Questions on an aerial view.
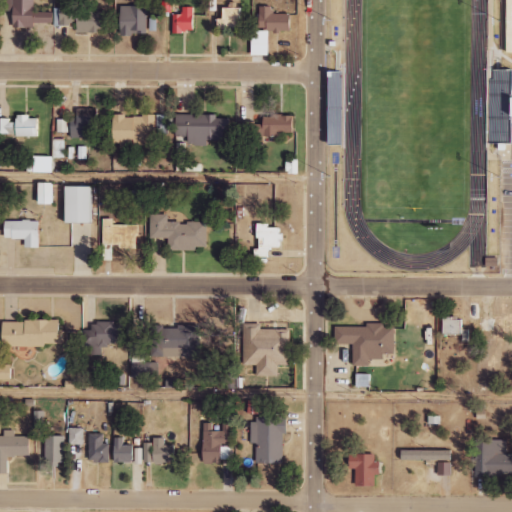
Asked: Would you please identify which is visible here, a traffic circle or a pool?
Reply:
pool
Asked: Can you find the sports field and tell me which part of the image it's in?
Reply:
top right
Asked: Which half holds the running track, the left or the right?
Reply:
right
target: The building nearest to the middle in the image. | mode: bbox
[254,224,282,262]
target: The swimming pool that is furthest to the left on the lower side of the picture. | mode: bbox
[44,356,68,381]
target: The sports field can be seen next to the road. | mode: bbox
[362,0,470,254]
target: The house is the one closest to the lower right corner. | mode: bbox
[481,440,512,474]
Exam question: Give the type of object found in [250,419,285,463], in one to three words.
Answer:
house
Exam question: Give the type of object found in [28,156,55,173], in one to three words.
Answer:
shed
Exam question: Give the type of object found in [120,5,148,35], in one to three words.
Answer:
house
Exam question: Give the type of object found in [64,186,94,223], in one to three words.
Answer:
building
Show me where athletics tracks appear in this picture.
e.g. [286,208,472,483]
[345,0,486,270]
